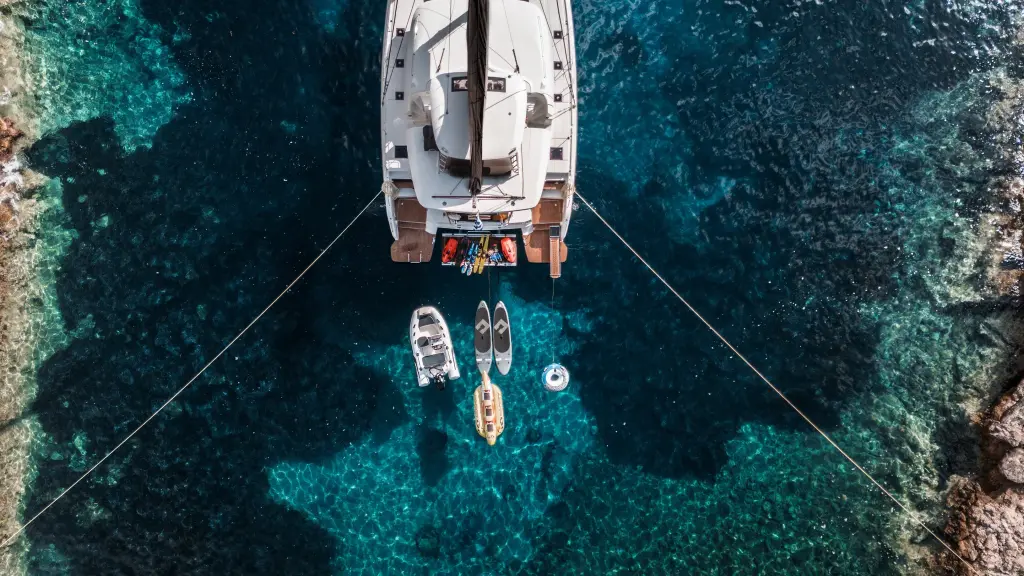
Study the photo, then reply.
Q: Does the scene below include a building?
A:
No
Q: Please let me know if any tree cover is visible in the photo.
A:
No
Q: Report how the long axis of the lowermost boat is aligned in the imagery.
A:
vertically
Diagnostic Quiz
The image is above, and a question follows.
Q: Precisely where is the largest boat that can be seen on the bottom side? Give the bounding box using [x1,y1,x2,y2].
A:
[412,305,461,395]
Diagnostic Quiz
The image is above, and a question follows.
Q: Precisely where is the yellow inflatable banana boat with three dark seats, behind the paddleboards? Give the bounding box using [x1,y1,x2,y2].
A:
[473,374,505,449]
